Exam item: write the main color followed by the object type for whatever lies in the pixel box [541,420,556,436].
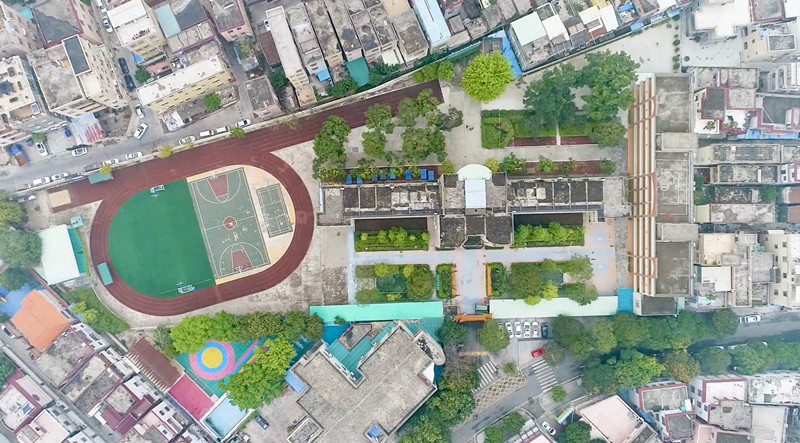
white car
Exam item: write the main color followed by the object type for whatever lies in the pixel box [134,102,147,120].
white vehicle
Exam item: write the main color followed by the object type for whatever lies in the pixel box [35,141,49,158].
white car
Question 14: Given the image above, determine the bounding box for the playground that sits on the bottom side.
[179,331,321,403]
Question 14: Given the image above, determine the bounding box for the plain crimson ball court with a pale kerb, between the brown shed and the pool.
[168,373,216,422]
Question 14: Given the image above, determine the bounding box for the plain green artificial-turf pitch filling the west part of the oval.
[108,178,212,298]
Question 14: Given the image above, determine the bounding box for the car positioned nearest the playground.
[255,413,270,430]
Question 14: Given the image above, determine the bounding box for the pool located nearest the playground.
[201,395,248,441]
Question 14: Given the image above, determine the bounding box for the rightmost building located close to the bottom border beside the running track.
[297,319,446,443]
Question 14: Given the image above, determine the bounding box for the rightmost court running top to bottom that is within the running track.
[256,184,292,238]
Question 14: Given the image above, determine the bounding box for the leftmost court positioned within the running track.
[186,165,271,283]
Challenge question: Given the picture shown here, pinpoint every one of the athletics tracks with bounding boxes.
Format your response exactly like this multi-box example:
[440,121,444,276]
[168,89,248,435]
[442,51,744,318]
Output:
[48,80,443,316]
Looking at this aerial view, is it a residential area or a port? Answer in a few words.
residential area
